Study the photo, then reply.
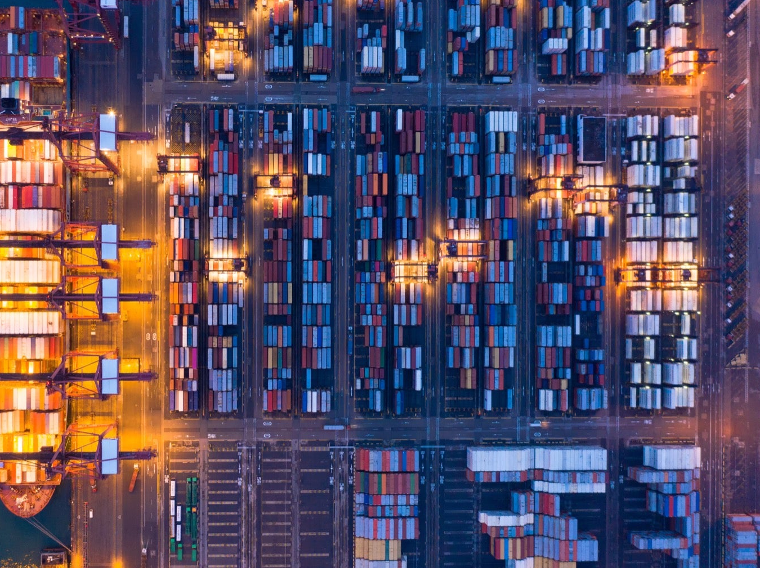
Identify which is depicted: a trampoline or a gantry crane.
gantry crane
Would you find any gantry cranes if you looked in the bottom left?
Yes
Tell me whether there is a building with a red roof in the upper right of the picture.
No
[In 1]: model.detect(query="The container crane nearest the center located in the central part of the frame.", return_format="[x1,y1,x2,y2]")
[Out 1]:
[387,260,439,283]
